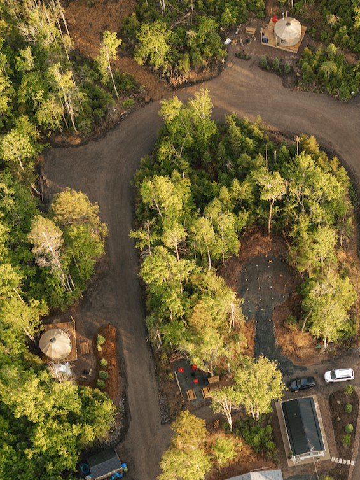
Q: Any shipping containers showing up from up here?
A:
No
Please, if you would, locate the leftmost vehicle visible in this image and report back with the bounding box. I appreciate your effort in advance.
[289,377,318,394]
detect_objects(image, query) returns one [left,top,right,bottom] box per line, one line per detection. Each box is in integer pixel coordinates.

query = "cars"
[324,368,355,383]
[289,377,318,394]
